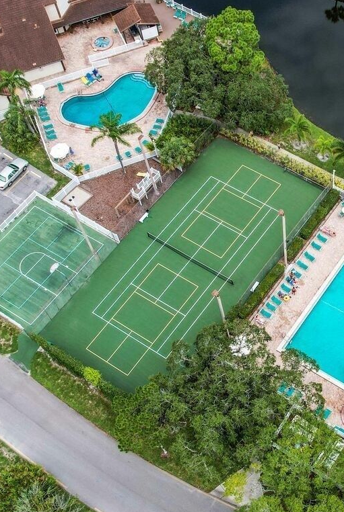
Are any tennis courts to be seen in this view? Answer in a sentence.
Yes, there's a tennis court here.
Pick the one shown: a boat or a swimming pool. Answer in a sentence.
There is a swimming pool in the scene.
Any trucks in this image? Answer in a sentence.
No, this view has no truck in it.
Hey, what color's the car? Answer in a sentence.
In this view, the car is white.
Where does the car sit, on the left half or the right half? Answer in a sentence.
You can find the car on the left side of the picture.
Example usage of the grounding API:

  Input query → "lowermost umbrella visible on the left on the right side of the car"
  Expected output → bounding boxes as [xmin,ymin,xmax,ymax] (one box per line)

[49,143,71,164]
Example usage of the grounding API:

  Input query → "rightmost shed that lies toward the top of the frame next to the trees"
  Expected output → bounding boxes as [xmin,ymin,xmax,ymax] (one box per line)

[112,3,162,45]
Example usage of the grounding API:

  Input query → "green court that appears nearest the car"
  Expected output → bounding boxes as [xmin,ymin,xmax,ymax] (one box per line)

[0,195,118,334]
